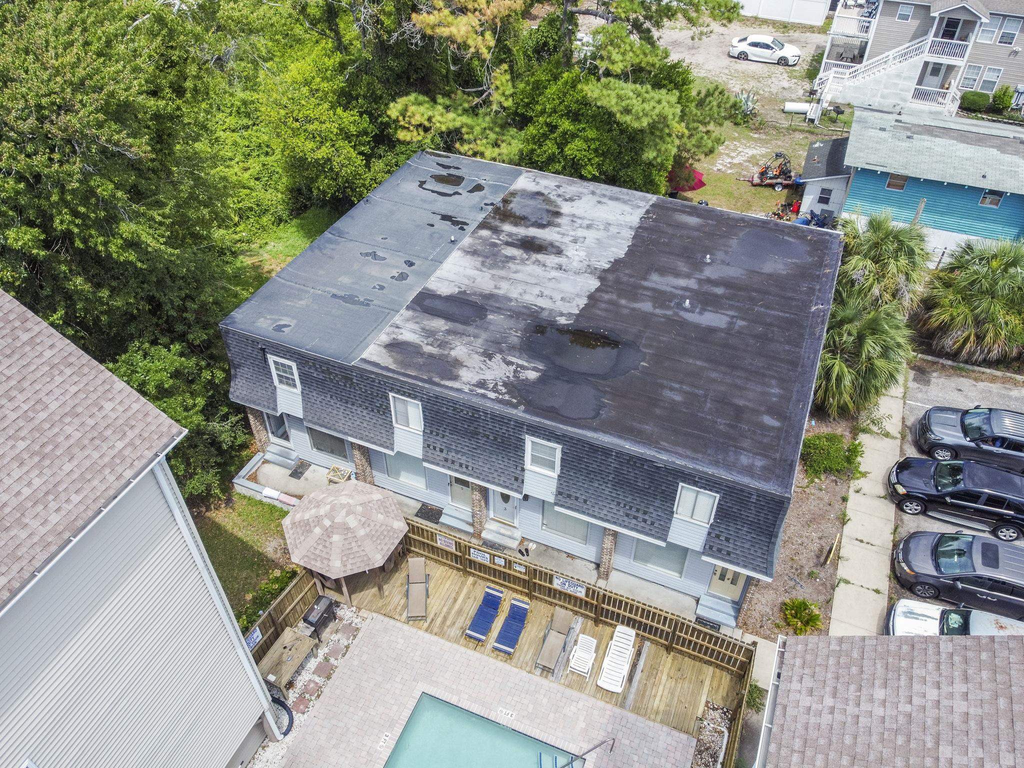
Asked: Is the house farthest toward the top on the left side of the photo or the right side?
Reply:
right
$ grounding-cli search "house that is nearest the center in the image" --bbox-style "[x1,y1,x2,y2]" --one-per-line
[218,148,847,631]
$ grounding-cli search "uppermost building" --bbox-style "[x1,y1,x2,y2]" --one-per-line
[810,0,1024,113]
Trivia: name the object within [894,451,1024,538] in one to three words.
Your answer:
car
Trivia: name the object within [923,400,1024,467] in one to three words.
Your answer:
car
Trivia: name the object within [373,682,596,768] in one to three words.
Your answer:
swimming pool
